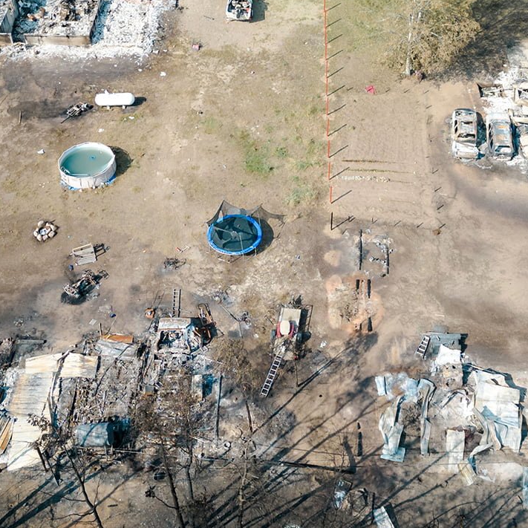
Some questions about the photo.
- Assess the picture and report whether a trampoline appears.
Yes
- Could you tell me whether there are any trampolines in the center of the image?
Yes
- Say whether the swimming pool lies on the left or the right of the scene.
left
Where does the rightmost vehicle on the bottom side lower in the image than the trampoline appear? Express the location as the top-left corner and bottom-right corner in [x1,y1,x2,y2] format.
[267,298,309,354]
